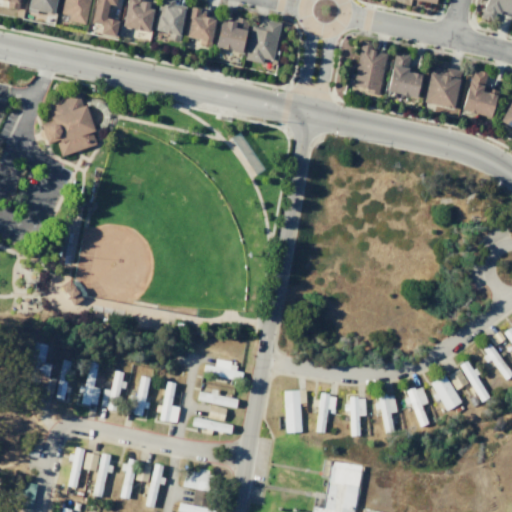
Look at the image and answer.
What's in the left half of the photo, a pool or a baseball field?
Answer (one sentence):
Looking in the left half of the photo, you will find a baseball field.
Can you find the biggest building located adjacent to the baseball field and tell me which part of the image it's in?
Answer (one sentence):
Look in the top left portion of the view to spot the biggest building located adjacent to the baseball field.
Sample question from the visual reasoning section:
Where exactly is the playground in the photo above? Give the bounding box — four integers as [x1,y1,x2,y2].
[14,258,42,314]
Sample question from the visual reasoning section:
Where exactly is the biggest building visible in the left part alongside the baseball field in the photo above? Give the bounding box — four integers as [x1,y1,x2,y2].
[44,96,100,159]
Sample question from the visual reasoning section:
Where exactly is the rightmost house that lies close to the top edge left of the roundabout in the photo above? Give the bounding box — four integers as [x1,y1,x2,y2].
[248,18,284,62]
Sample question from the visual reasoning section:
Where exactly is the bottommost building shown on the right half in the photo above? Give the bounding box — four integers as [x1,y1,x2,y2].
[313,459,365,512]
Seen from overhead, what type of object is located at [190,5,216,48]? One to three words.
house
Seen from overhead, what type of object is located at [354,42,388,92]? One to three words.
house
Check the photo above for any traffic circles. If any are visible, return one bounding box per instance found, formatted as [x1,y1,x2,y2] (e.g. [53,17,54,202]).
[296,0,364,44]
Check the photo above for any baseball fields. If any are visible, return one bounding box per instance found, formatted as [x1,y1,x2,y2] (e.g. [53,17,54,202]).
[79,130,246,316]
